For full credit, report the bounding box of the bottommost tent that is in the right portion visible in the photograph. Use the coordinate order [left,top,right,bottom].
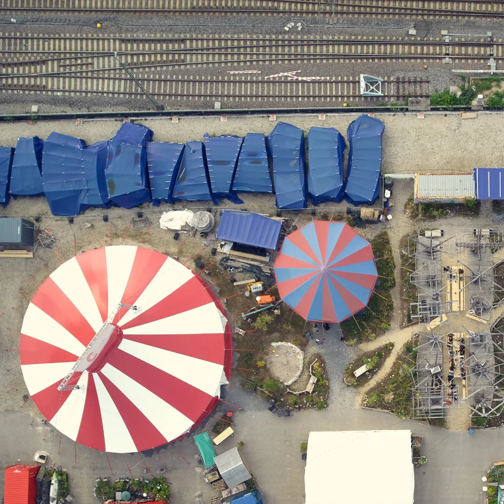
[305,427,413,504]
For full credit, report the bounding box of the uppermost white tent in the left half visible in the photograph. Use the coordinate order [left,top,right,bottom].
[13,227,255,472]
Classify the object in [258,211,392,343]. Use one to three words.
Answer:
tent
